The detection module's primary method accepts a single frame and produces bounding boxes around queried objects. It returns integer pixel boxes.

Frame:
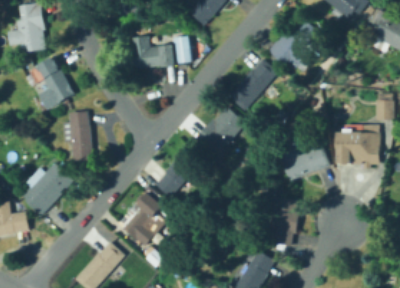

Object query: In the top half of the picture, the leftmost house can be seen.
[8,4,45,52]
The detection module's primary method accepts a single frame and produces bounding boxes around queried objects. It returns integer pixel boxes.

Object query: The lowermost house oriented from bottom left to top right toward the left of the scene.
[76,243,124,288]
